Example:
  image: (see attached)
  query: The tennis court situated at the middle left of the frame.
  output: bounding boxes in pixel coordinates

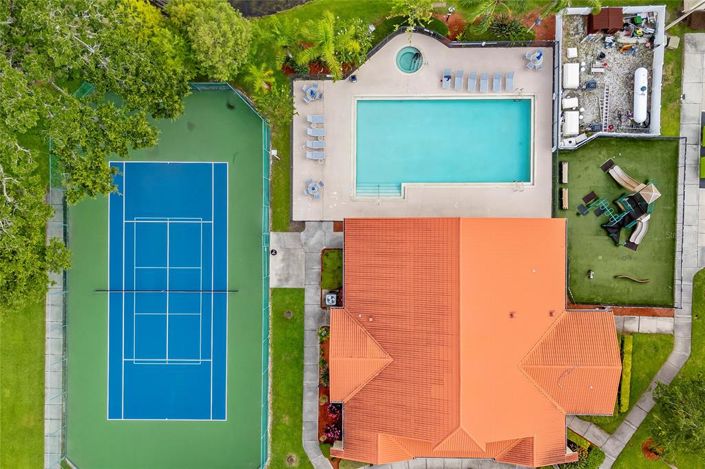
[66,90,269,469]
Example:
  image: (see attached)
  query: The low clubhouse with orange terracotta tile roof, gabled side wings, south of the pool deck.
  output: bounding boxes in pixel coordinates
[328,216,622,468]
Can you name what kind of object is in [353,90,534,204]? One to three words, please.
swimming pool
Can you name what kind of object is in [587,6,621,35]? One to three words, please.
shed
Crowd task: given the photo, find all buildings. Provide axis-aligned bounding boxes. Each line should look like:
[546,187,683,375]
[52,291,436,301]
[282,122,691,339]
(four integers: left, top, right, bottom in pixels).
[587,6,621,35]
[328,216,622,468]
[675,0,705,17]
